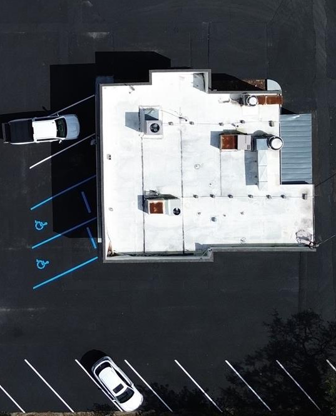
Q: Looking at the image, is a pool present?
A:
No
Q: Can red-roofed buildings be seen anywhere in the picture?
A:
No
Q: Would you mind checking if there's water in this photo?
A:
No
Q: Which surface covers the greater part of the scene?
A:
paved ground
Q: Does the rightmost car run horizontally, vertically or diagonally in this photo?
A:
diagonally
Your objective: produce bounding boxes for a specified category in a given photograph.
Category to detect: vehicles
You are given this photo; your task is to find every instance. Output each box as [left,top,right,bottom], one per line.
[0,113,81,144]
[92,355,143,414]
